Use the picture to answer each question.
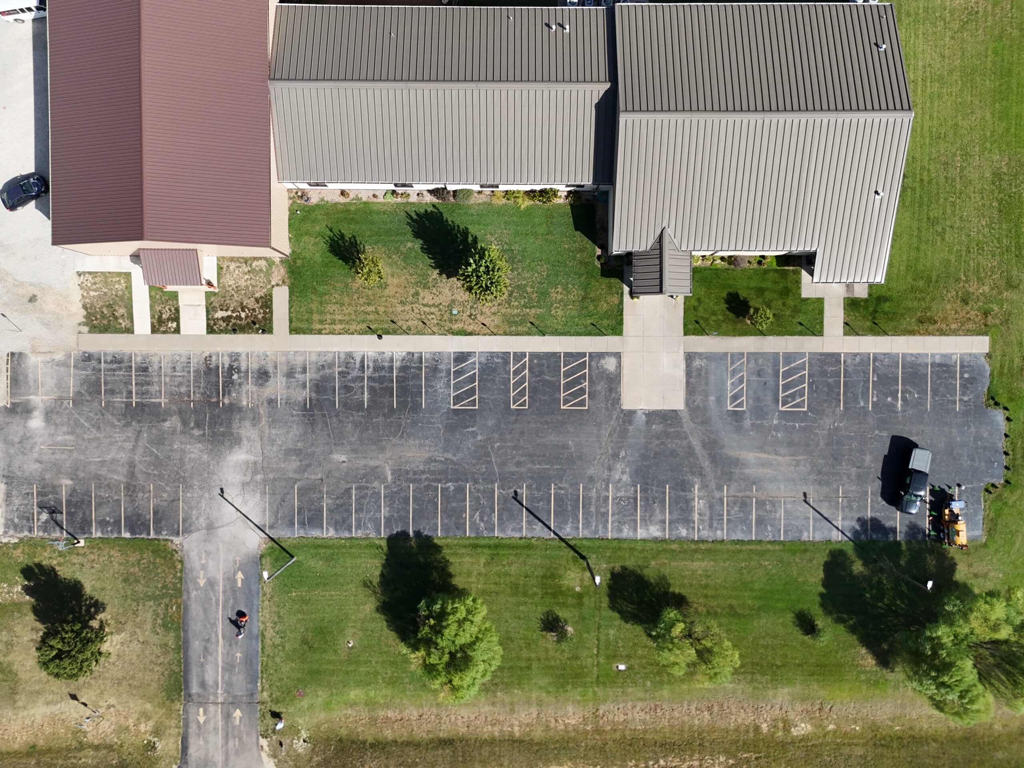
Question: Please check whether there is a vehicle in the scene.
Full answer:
Yes, this view includes a vehicle.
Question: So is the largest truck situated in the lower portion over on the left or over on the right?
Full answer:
It is on the right.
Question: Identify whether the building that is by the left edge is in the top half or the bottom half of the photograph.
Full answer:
Seen from above, the building that is by the left edge lies in the top half of the view.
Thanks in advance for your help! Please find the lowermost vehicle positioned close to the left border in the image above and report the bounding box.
[1,178,48,210]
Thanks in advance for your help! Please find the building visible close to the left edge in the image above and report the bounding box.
[48,0,289,288]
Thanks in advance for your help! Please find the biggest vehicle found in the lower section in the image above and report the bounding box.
[895,447,932,514]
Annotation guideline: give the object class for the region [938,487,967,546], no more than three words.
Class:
trailer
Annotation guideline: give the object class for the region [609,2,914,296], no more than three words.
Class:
building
